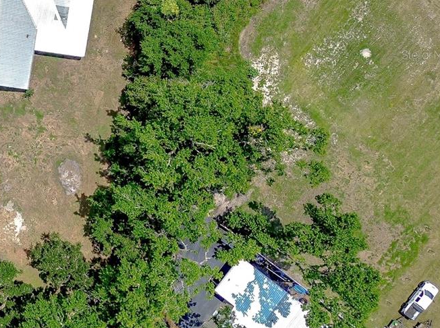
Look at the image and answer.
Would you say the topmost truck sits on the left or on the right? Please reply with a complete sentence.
The topmost truck appears in the right half of the scene.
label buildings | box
[0,0,93,91]
[212,258,322,328]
